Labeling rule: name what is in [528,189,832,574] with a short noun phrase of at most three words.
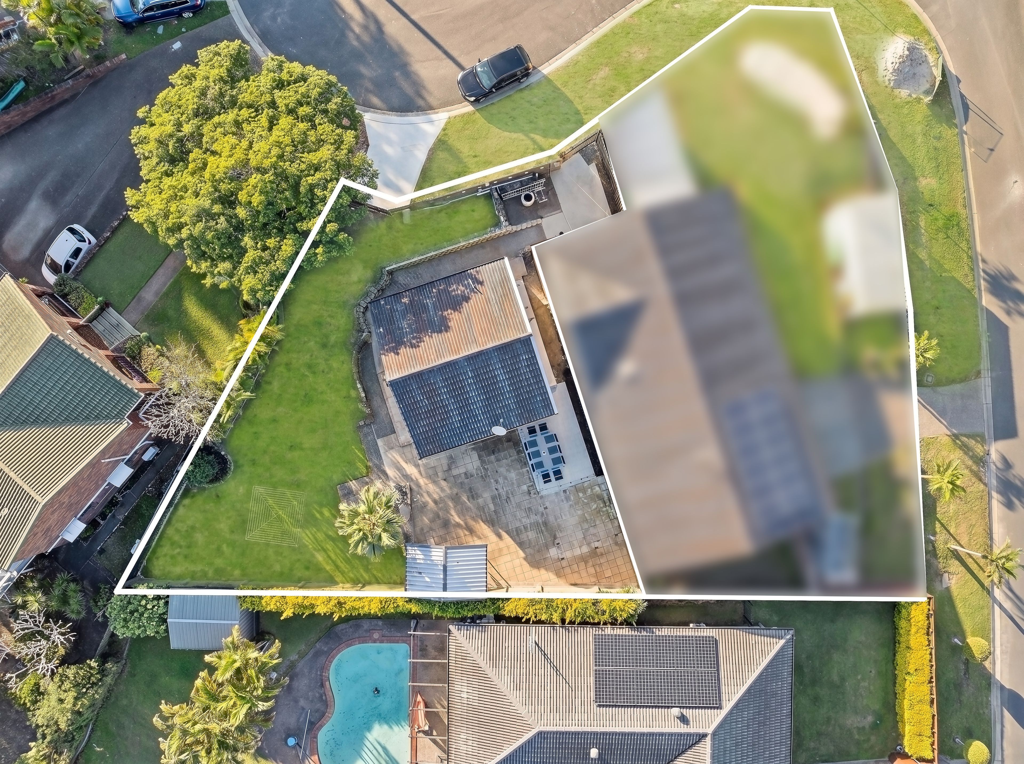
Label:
house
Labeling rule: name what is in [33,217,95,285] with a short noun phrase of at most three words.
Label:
car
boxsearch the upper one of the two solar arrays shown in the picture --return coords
[728,386,821,545]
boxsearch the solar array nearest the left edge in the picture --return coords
[595,633,726,705]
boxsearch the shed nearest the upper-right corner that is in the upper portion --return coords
[799,197,910,326]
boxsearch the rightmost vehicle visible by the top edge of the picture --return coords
[455,38,537,100]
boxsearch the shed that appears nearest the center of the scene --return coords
[368,255,561,461]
